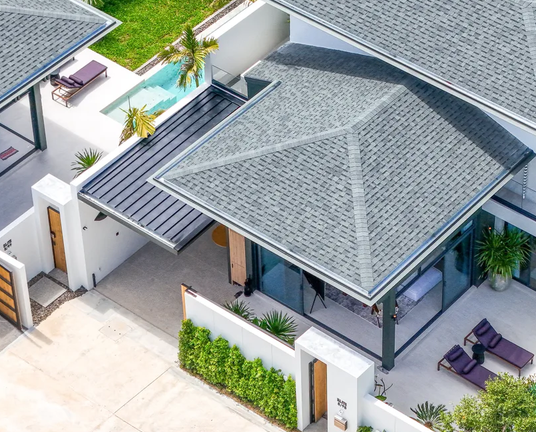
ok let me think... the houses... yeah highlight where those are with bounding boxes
[0,0,122,181]
[80,0,536,372]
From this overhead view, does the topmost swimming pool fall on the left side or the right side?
left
